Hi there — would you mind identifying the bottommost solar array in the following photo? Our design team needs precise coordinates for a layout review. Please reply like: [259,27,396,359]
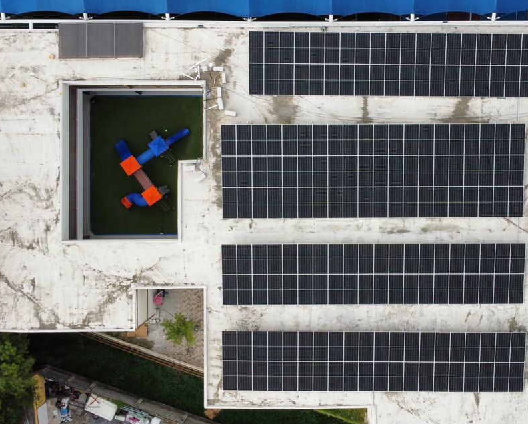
[223,331,526,392]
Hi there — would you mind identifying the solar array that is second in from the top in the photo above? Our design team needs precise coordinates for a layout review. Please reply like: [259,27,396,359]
[222,124,526,218]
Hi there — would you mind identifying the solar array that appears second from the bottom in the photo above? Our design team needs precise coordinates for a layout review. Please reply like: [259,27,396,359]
[222,244,526,304]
